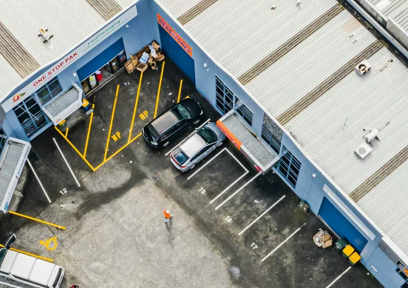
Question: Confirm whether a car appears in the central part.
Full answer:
Yes, I can see a car in the central part.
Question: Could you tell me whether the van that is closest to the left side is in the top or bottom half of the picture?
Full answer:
The van that is closest to the left side is in the bottom half of the image.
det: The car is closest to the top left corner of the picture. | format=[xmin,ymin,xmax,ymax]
[142,101,205,151]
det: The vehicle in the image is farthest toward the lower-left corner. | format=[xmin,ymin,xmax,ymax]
[0,236,63,288]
